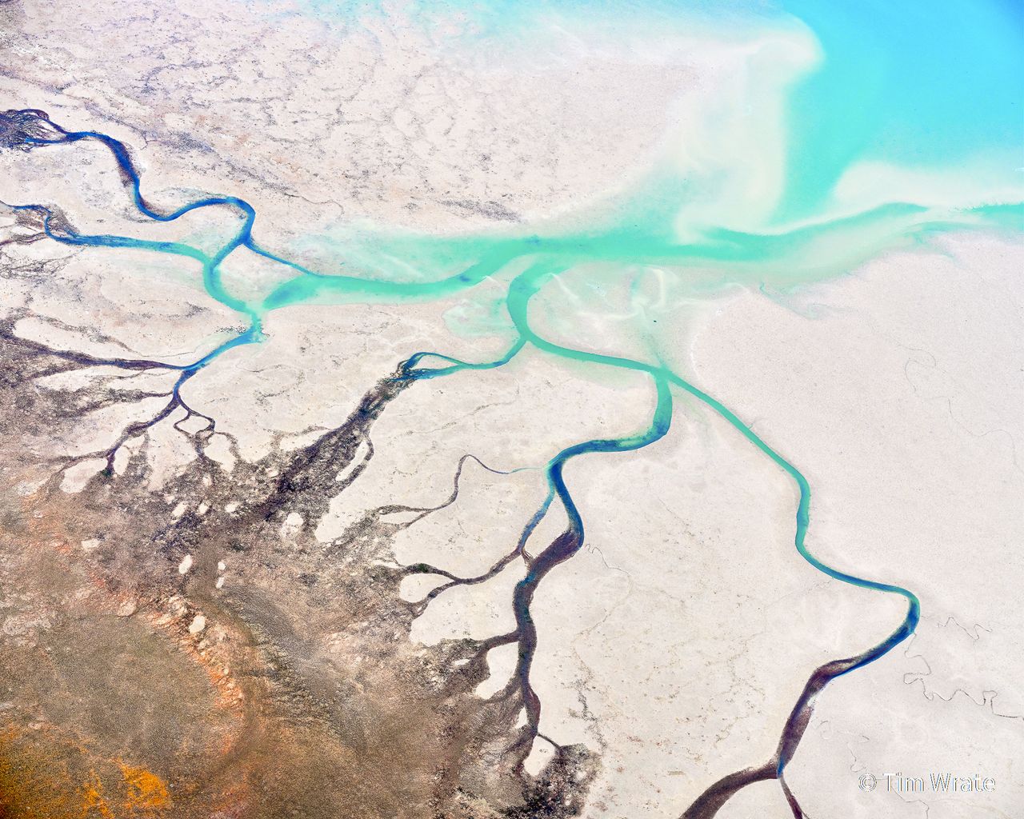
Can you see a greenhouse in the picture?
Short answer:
No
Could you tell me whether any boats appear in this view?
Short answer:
No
